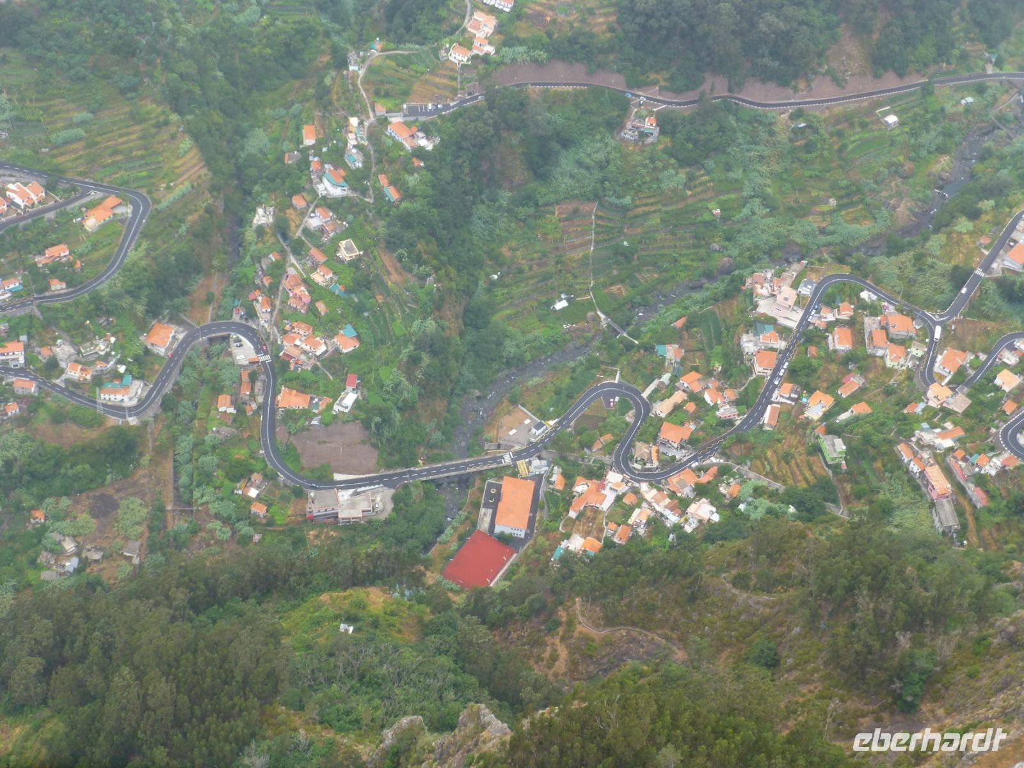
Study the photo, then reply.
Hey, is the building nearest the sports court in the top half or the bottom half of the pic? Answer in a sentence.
You can find the building nearest the sports court in the bottom half.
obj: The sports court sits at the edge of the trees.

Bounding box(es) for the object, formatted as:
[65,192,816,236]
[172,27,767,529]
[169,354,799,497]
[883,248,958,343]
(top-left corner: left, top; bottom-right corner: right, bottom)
[443,535,516,585]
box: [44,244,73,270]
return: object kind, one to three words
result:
house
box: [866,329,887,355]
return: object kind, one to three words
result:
house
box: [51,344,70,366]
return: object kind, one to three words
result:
shed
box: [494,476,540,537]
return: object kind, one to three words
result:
building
